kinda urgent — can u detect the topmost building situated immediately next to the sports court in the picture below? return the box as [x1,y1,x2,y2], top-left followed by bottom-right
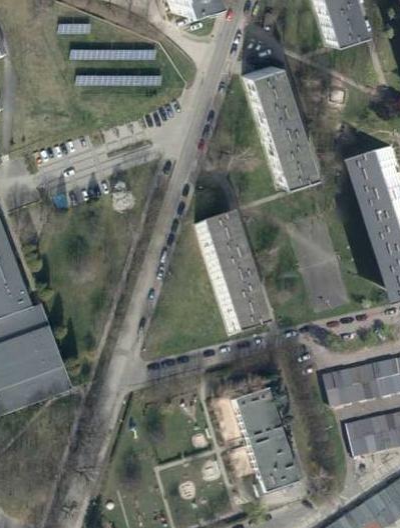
[242,71,320,193]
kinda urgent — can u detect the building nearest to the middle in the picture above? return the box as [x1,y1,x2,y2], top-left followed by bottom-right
[195,210,273,331]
